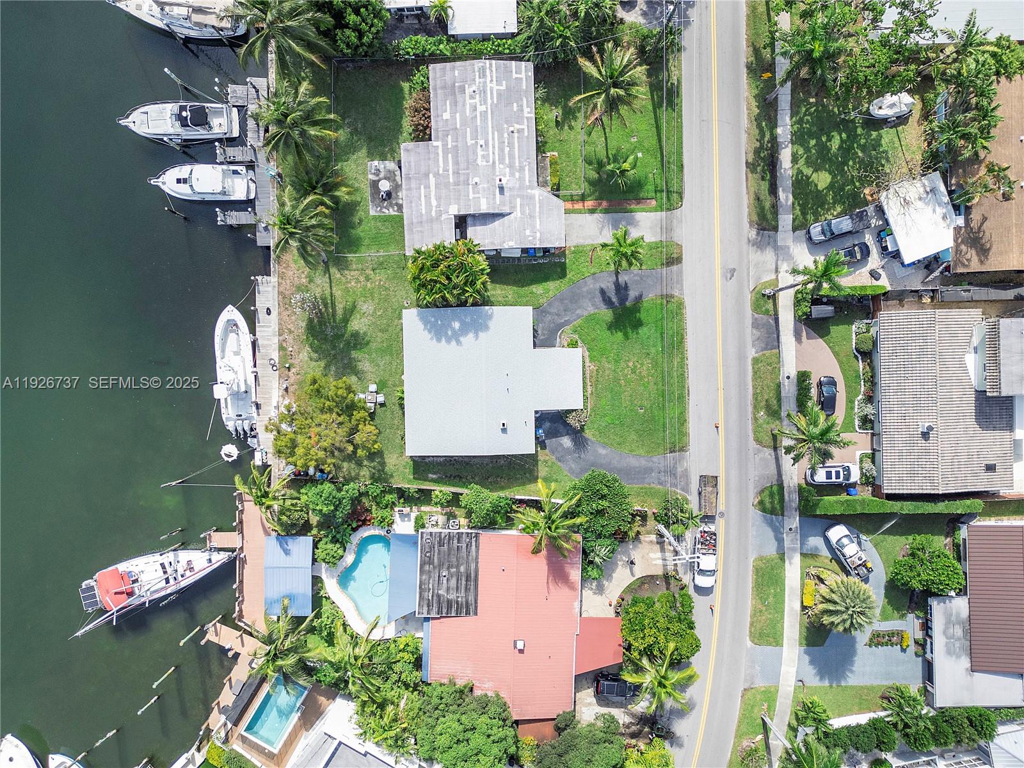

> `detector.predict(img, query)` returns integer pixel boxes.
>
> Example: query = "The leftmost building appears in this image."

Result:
[259,536,313,618]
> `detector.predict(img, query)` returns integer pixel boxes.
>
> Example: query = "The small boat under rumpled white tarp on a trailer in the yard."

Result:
[850,89,915,124]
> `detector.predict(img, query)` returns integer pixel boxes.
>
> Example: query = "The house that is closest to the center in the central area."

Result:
[402,305,584,457]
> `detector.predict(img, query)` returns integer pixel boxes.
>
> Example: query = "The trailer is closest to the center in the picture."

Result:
[695,475,722,526]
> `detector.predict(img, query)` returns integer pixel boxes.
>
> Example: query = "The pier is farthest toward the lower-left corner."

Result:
[209,619,265,734]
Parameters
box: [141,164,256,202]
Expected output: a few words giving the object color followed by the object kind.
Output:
white boat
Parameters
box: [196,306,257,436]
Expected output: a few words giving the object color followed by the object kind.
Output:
white boat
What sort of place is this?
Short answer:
residential area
